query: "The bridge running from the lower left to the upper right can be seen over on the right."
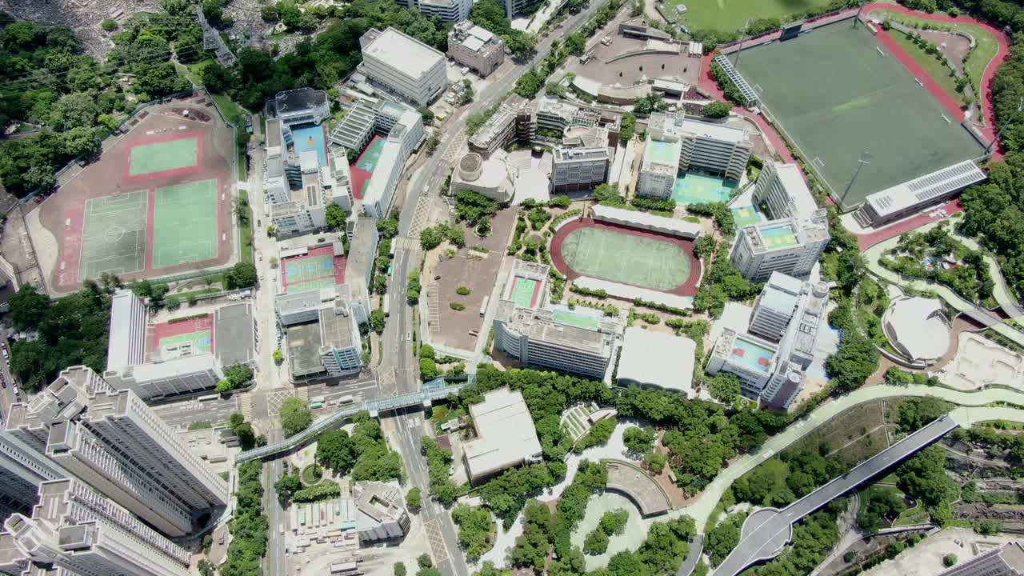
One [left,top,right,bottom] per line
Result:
[713,410,969,576]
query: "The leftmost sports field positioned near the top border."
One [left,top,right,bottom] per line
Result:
[669,0,844,43]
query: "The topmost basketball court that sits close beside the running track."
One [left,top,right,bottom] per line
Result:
[670,170,739,205]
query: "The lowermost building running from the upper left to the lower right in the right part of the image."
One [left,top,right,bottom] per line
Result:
[601,456,672,515]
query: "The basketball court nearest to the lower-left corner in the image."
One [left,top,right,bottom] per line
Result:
[153,313,214,362]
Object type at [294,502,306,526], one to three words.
vehicle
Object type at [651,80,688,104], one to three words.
building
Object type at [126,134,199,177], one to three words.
basketball court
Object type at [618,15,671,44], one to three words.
building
